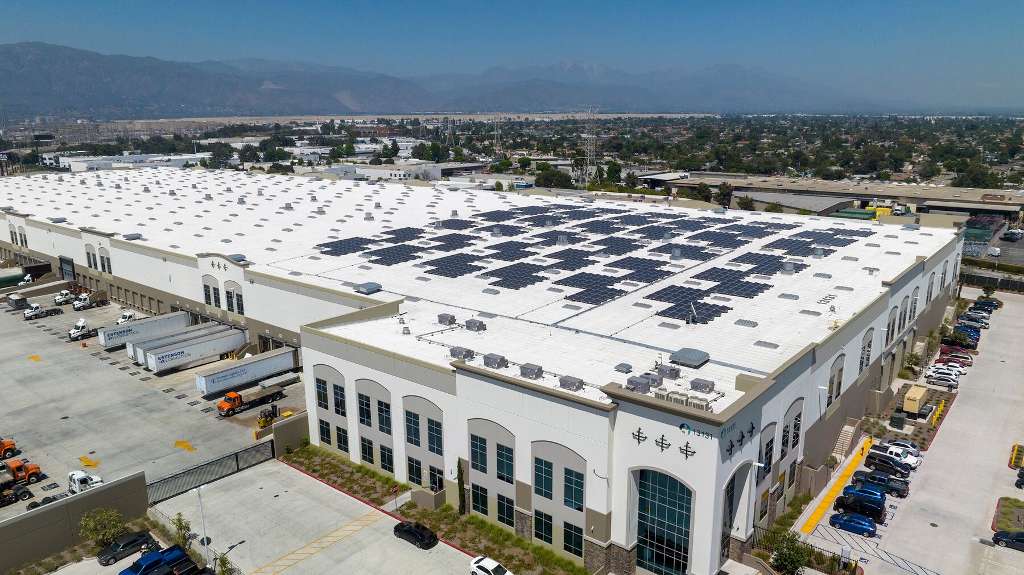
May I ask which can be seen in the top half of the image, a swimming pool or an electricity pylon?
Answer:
electricity pylon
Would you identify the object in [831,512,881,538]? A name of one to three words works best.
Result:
car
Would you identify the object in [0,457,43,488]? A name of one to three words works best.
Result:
truck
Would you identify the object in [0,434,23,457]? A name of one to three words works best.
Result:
truck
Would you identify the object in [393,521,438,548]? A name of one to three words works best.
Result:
car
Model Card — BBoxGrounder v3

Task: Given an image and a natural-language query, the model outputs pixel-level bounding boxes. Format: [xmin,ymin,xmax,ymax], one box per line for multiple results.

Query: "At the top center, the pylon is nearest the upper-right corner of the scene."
[578,105,604,186]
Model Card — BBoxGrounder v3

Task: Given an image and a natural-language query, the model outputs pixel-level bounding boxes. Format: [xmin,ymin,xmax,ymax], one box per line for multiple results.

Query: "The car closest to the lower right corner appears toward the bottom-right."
[992,529,1024,551]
